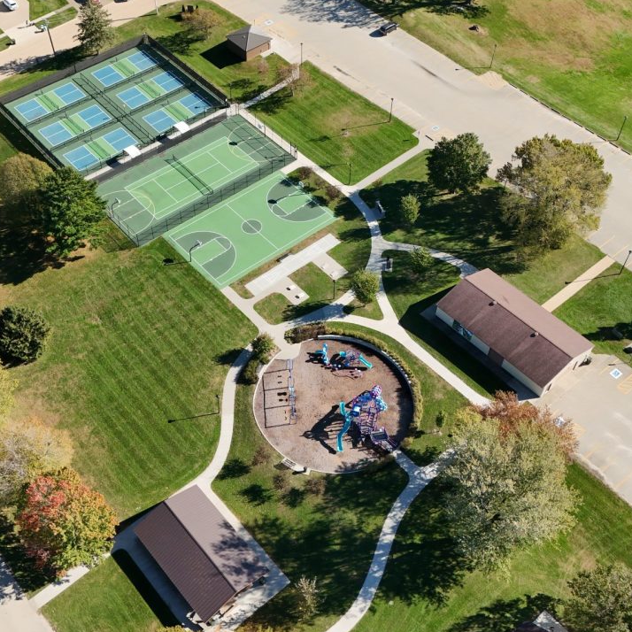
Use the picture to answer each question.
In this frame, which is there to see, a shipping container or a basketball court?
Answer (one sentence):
Visible in the photo is a basketball court.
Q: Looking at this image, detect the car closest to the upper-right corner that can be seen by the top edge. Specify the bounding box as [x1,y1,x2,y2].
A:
[377,21,400,33]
